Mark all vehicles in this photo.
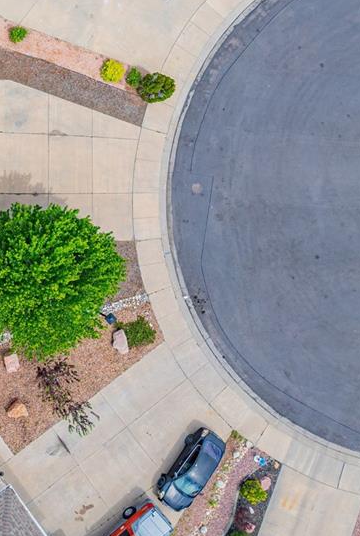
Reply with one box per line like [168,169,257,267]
[106,500,174,536]
[159,433,227,512]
